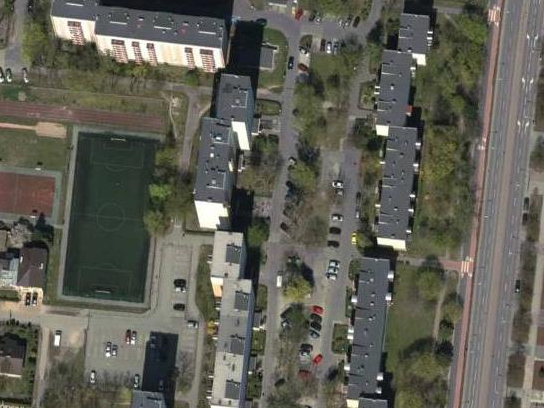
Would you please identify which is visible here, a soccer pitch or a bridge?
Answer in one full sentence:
There is a soccer pitch in the scene.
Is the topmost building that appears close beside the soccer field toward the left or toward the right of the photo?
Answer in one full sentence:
The topmost building that appears close beside the soccer field is on the left side of the image.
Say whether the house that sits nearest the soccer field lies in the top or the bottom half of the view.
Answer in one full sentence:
It is in the bottom half that the house that sits nearest the soccer field appears.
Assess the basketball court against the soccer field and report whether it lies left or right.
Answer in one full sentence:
The soccer field has the basketball court on its left side.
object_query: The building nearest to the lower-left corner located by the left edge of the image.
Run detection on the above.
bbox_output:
[0,338,27,378]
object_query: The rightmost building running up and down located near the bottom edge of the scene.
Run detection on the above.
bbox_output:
[345,258,395,408]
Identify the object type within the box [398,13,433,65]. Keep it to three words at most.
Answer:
building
